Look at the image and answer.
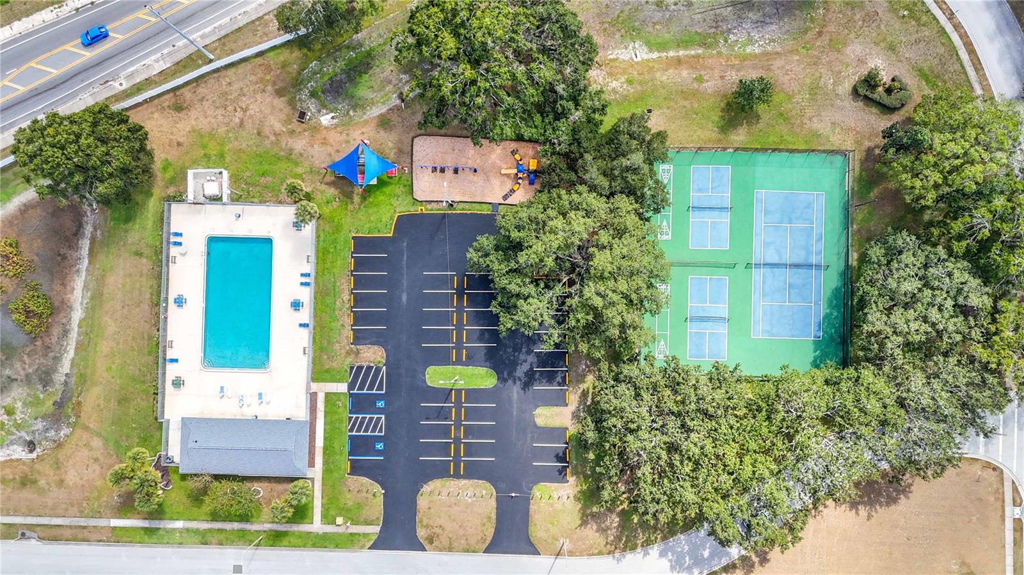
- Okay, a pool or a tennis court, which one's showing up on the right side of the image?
tennis court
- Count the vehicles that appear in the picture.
1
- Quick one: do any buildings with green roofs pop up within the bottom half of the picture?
No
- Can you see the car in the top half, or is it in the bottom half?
top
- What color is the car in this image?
blue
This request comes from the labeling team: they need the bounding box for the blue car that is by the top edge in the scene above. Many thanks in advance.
[78,23,107,45]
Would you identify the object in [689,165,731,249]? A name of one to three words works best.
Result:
sports court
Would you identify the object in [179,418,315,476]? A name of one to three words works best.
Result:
building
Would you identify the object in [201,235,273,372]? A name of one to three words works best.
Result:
swimming pool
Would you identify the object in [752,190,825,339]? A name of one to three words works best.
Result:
tennis court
